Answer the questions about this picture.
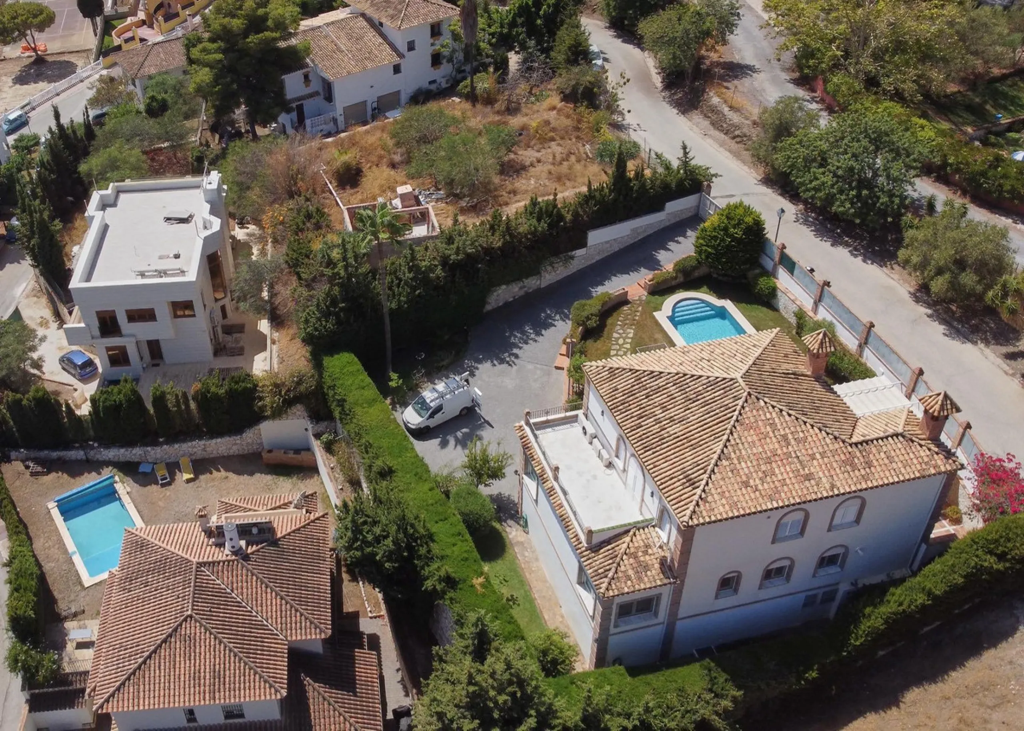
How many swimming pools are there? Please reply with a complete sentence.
There are 2 swimming pools in the image.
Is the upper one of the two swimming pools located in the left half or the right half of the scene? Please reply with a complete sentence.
You can find the upper one of the two swimming pools on the right side of the picture.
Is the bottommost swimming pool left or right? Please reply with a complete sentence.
The bottommost swimming pool appears in the left half of the scene.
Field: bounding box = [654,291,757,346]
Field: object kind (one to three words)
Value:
swimming pool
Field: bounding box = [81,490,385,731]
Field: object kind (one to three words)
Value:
house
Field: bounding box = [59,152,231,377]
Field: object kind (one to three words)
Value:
house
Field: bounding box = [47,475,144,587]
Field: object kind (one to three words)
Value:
swimming pool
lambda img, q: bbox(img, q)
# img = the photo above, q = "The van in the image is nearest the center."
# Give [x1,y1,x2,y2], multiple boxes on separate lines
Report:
[396,363,490,432]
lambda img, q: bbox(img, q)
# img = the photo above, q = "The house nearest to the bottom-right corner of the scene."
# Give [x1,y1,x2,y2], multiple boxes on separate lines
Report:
[515,328,965,669]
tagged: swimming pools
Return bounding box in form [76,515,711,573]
[654,291,757,346]
[47,475,144,587]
